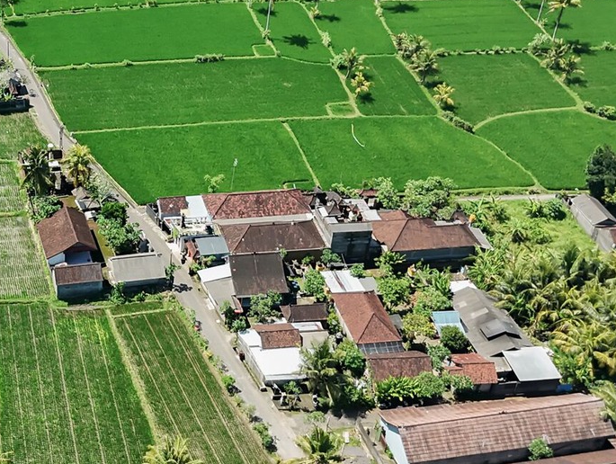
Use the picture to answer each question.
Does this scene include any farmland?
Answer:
Yes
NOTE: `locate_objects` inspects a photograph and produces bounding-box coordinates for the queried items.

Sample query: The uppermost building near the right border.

[563,192,616,244]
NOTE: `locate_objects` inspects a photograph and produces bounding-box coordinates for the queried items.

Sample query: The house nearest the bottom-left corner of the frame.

[55,262,102,298]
